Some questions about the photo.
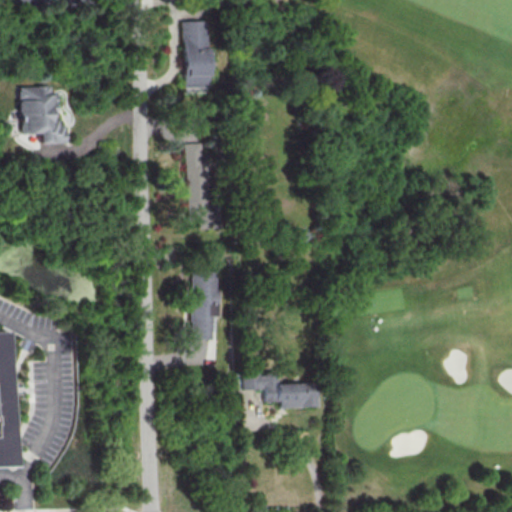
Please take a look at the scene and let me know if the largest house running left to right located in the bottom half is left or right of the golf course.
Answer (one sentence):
In the image, the largest house running left to right located in the bottom half sits on the left side of the golf course.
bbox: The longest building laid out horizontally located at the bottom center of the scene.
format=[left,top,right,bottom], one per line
[242,375,320,409]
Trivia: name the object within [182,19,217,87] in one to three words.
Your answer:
house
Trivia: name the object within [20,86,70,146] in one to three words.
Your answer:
house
